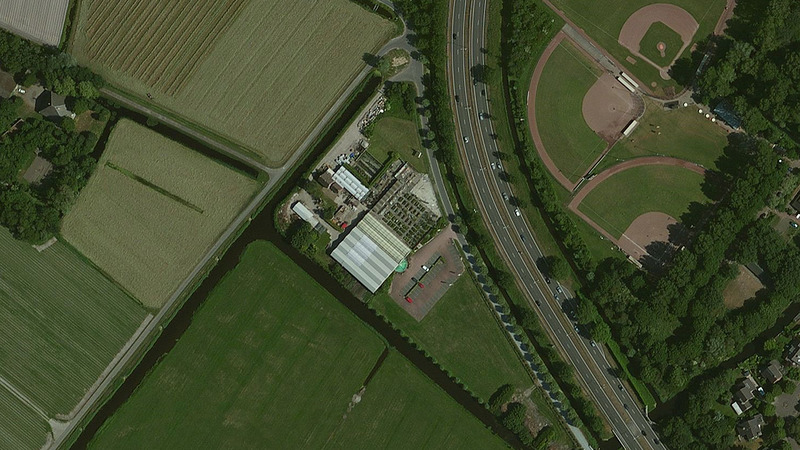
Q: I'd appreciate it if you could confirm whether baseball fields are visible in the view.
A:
Yes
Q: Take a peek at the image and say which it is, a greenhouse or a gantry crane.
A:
greenhouse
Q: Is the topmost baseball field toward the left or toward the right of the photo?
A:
right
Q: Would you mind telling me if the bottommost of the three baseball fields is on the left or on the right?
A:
right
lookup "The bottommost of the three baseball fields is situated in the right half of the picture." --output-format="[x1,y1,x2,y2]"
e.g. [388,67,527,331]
[569,157,719,271]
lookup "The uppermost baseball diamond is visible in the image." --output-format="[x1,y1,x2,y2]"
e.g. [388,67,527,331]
[548,0,736,98]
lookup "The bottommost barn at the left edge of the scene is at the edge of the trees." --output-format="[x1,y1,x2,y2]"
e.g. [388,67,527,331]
[24,155,52,184]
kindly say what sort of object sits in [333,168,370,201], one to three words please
greenhouse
